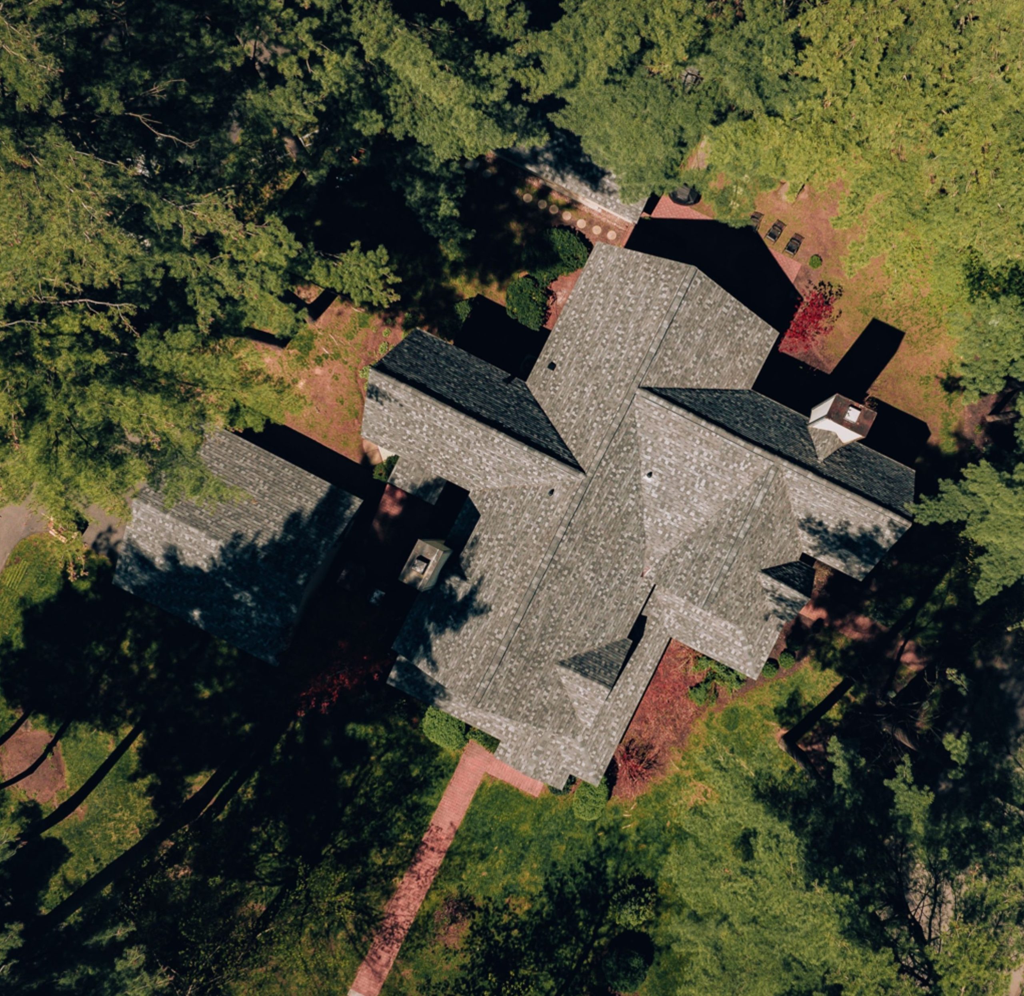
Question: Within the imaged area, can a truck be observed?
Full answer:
No, there appears to be no truck in this shot.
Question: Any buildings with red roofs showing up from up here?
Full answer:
No, no building with a red roof can be seen from above.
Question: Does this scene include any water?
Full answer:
No, there's no water in this view.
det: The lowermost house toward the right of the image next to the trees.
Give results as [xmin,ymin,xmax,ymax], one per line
[361,244,916,791]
